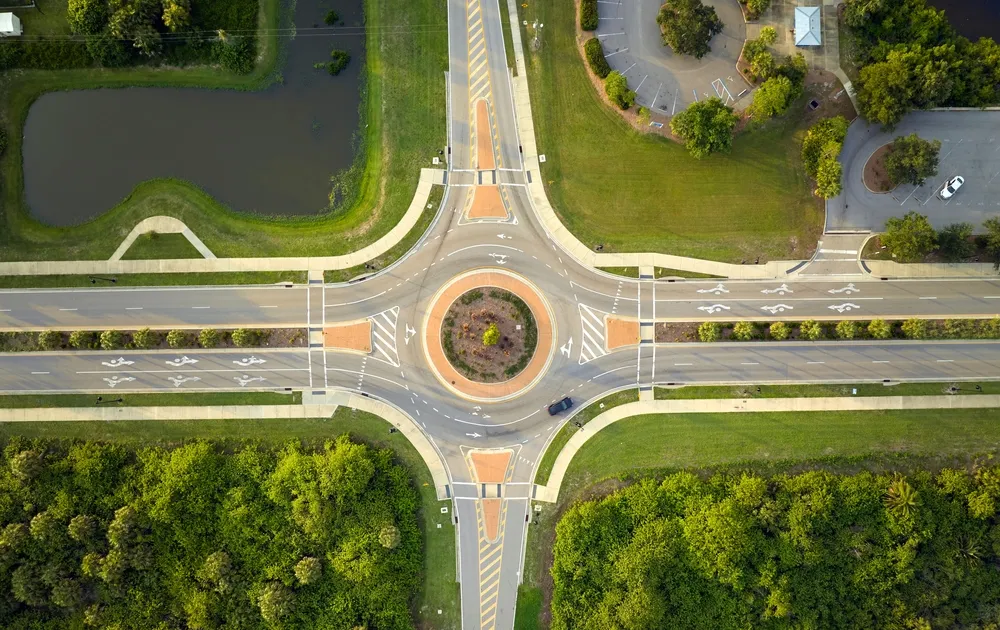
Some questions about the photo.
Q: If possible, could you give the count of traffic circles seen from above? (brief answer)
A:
one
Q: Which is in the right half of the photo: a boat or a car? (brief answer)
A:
car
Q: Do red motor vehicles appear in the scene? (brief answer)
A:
No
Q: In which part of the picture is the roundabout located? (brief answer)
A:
center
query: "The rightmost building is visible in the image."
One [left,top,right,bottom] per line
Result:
[792,7,821,49]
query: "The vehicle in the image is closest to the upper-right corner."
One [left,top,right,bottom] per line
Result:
[938,174,966,200]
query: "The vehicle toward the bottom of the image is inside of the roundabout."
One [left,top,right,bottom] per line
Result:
[548,397,573,416]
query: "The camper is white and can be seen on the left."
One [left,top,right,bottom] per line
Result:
[0,14,27,34]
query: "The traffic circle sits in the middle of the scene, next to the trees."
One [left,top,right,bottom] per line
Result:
[308,168,655,499]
